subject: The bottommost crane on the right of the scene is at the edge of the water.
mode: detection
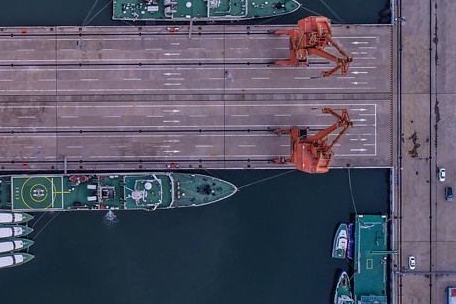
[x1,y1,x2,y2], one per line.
[272,105,360,176]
